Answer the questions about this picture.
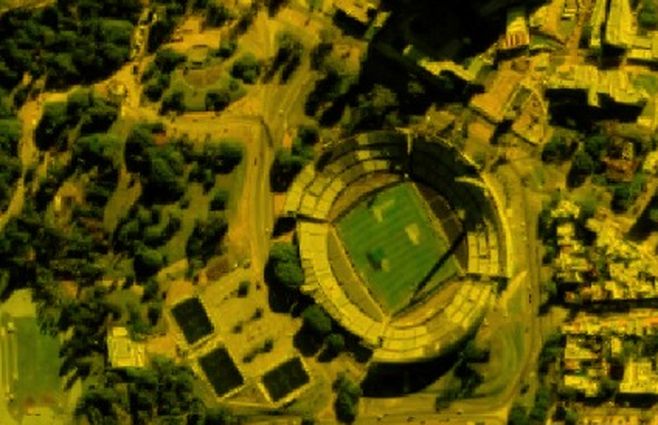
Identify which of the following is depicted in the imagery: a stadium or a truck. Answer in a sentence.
Looking from above, you can make out a stadium.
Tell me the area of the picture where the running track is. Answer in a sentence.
You can find the running track in the bottom left area of the picture.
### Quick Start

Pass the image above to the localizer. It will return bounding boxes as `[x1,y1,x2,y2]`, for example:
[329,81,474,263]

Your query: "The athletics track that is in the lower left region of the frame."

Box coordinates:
[0,287,85,425]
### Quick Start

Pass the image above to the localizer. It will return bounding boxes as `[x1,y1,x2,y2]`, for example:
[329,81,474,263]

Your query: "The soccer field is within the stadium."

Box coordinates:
[337,184,462,316]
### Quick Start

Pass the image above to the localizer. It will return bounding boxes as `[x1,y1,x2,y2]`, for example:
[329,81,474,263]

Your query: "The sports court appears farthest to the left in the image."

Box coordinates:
[168,293,218,350]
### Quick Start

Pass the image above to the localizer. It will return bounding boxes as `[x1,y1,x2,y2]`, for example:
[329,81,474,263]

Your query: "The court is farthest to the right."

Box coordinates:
[259,354,316,405]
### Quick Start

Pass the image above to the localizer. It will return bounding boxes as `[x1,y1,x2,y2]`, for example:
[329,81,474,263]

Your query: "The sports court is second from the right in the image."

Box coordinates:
[196,343,248,401]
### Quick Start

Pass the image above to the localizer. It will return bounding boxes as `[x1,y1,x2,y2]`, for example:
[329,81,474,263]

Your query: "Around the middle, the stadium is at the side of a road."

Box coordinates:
[285,128,513,370]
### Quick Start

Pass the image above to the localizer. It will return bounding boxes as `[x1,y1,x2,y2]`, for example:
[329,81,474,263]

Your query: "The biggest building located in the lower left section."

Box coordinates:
[109,339,139,368]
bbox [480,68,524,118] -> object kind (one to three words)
building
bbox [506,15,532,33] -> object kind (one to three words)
building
